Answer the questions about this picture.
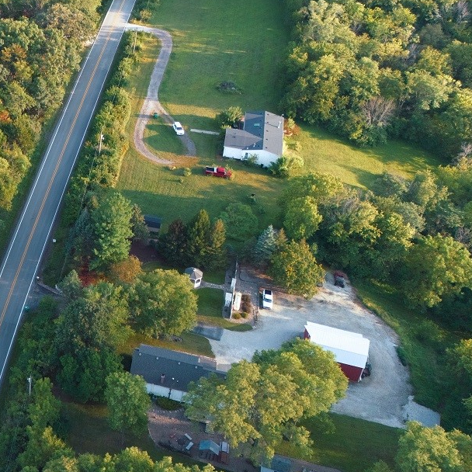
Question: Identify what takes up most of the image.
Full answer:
The scene is dominated by trees.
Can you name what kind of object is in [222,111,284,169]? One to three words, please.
house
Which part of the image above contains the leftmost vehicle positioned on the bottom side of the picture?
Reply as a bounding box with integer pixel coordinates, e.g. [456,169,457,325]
[263,285,275,310]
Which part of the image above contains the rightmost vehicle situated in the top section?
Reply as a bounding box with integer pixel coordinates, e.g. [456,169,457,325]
[206,165,231,177]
